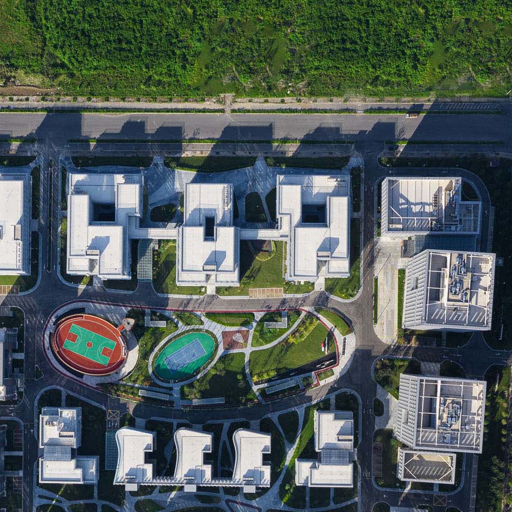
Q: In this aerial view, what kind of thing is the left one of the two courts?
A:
basketball court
